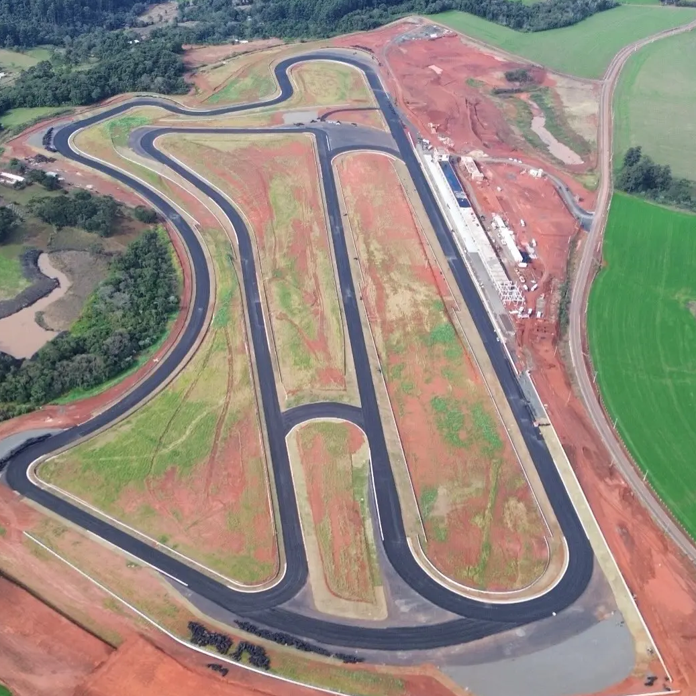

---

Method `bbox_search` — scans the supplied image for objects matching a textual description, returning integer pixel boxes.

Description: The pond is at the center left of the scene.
[0,255,73,361]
